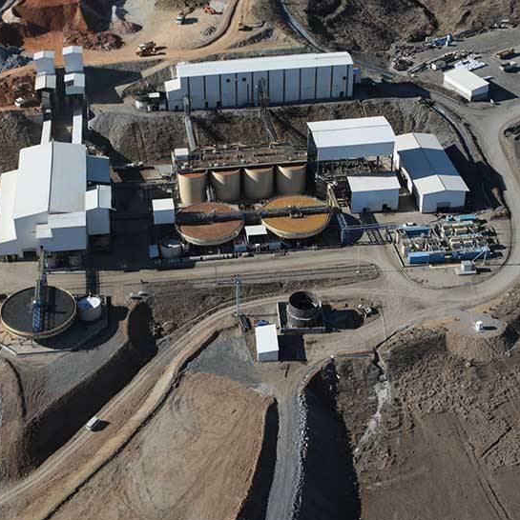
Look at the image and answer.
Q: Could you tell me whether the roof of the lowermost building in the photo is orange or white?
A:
white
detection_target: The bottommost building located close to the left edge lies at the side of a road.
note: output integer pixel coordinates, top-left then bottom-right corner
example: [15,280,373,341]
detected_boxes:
[0,141,116,278]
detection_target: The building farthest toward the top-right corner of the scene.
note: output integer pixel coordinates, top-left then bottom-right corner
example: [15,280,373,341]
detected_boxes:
[443,65,493,102]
